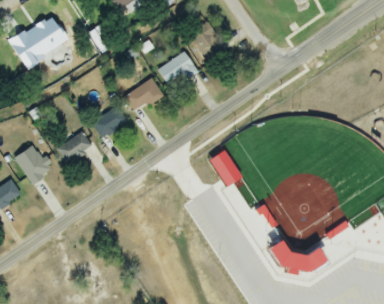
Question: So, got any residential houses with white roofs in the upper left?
Yes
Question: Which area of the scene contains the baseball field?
right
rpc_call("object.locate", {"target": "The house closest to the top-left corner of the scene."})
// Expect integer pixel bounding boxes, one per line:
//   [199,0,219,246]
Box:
[8,17,64,68]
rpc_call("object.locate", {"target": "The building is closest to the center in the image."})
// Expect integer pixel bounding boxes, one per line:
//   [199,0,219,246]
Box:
[210,149,244,188]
